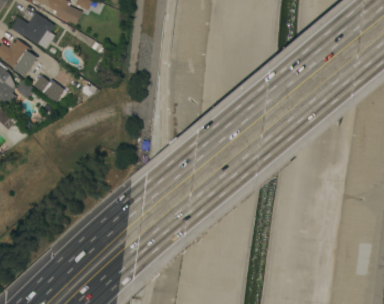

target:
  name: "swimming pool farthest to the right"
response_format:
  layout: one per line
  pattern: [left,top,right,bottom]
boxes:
[64,48,80,66]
